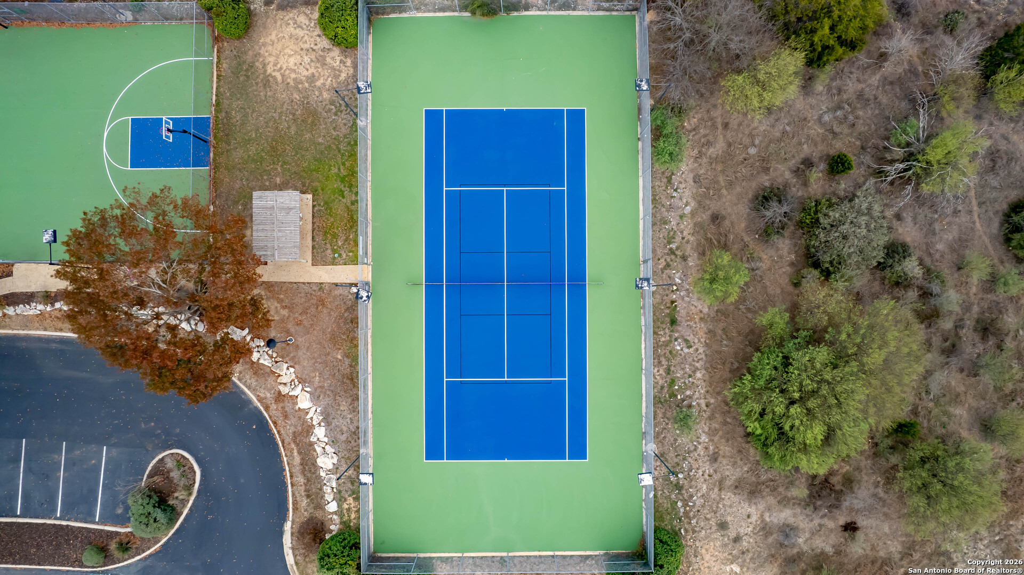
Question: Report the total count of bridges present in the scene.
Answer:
0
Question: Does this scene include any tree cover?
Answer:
Yes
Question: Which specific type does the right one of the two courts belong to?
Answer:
tennis court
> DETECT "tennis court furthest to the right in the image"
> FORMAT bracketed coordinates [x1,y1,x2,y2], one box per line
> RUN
[367,9,646,559]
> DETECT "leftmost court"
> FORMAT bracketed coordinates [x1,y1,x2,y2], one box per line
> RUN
[0,19,216,259]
